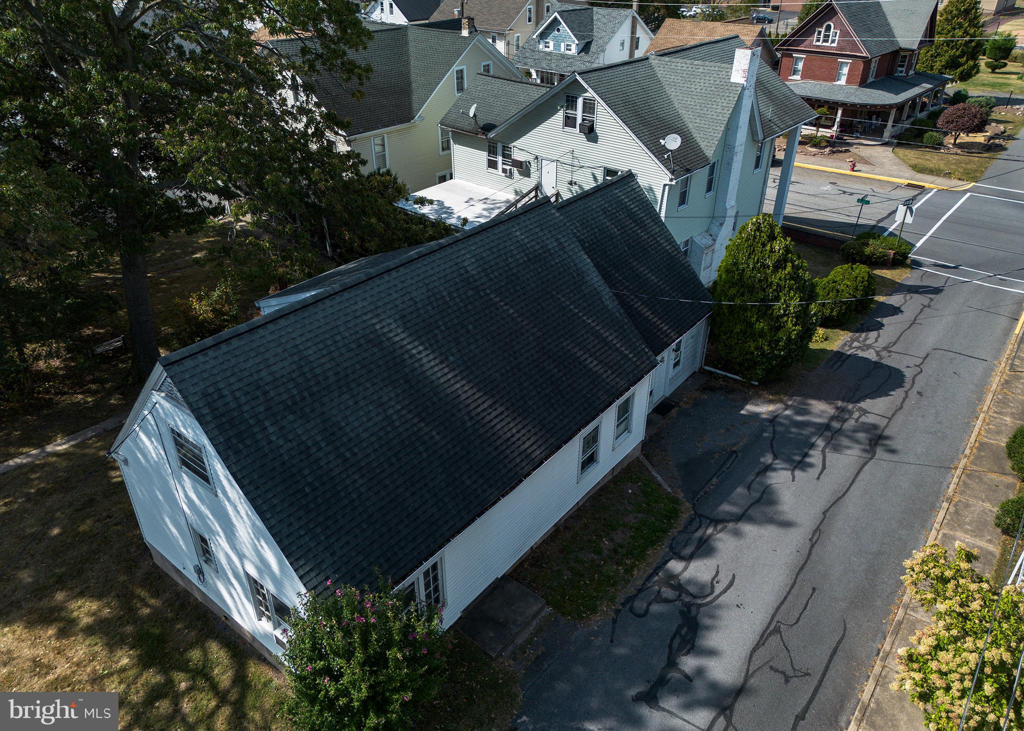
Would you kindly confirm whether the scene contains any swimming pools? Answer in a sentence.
No, I can't see a single swimming pool in this photo.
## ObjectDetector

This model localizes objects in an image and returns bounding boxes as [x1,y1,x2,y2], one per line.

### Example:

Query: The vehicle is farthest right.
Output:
[751,12,776,25]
